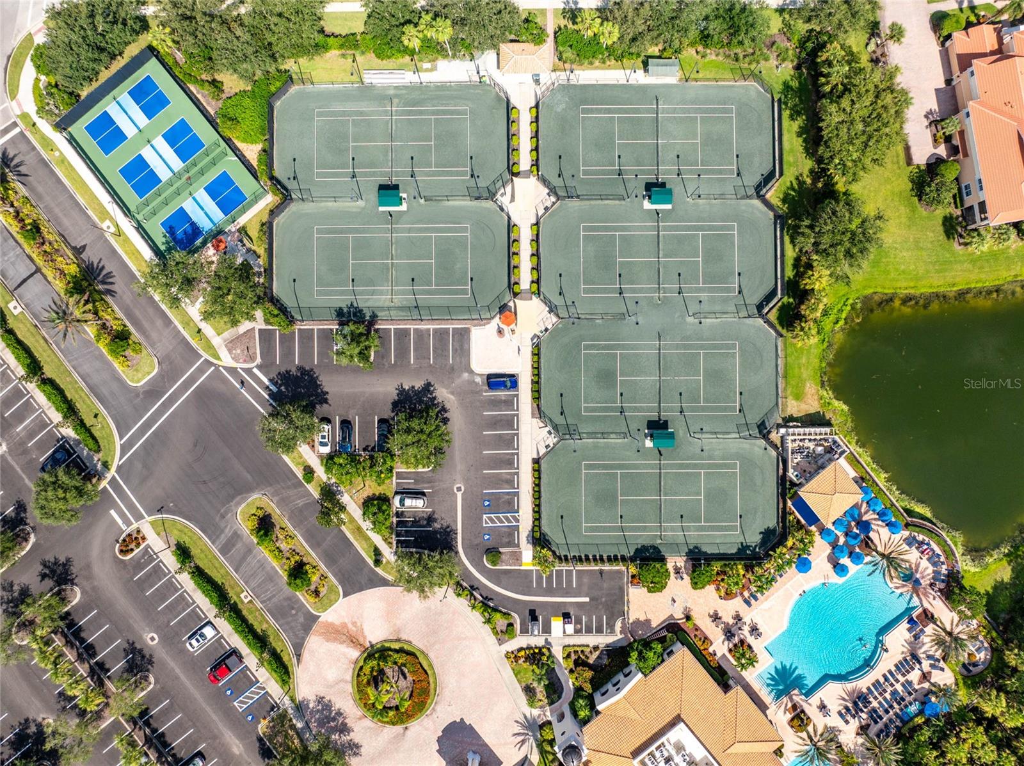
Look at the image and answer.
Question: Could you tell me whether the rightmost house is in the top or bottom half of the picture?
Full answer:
The rightmost house is in the top half of the image.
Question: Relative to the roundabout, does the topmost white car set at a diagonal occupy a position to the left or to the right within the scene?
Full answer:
Relative to the roundabout, the topmost white car set at a diagonal is on the left.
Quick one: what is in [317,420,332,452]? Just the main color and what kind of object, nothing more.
white car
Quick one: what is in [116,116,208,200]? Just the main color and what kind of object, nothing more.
blue sports court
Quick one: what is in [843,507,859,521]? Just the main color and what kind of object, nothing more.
blue umbrella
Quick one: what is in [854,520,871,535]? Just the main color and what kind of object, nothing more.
blue umbrella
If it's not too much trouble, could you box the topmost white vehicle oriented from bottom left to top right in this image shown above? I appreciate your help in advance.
[186,623,217,652]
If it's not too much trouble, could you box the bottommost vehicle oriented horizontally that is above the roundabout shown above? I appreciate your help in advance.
[394,493,427,507]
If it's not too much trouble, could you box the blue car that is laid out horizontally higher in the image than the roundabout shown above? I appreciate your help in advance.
[488,376,518,390]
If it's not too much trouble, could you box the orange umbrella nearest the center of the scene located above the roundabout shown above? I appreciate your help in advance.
[500,311,515,327]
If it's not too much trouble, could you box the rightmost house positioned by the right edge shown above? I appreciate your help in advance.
[940,24,1024,232]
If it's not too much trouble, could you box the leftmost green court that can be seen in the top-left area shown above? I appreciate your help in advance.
[69,57,268,264]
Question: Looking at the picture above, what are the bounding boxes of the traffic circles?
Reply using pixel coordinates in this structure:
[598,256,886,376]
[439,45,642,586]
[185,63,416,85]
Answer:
[297,585,538,766]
